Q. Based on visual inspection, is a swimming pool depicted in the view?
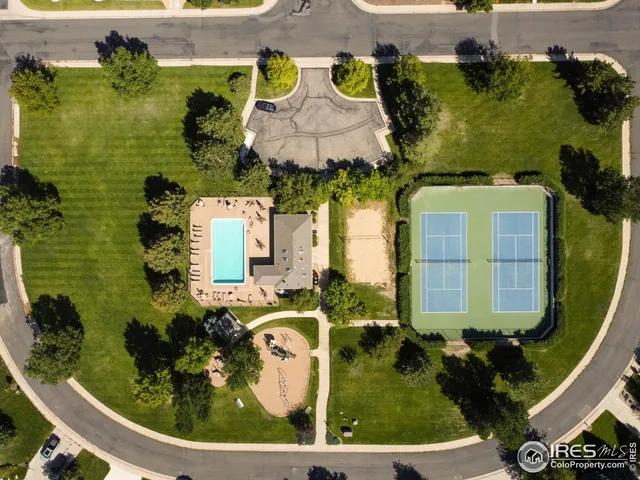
Yes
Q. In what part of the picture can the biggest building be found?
center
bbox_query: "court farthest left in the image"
[341,197,401,303]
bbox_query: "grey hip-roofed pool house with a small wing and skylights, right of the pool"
[254,214,312,289]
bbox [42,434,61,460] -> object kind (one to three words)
vehicle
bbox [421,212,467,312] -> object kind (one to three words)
tennis court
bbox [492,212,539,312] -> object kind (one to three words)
tennis court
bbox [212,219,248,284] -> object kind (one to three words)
swimming pool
